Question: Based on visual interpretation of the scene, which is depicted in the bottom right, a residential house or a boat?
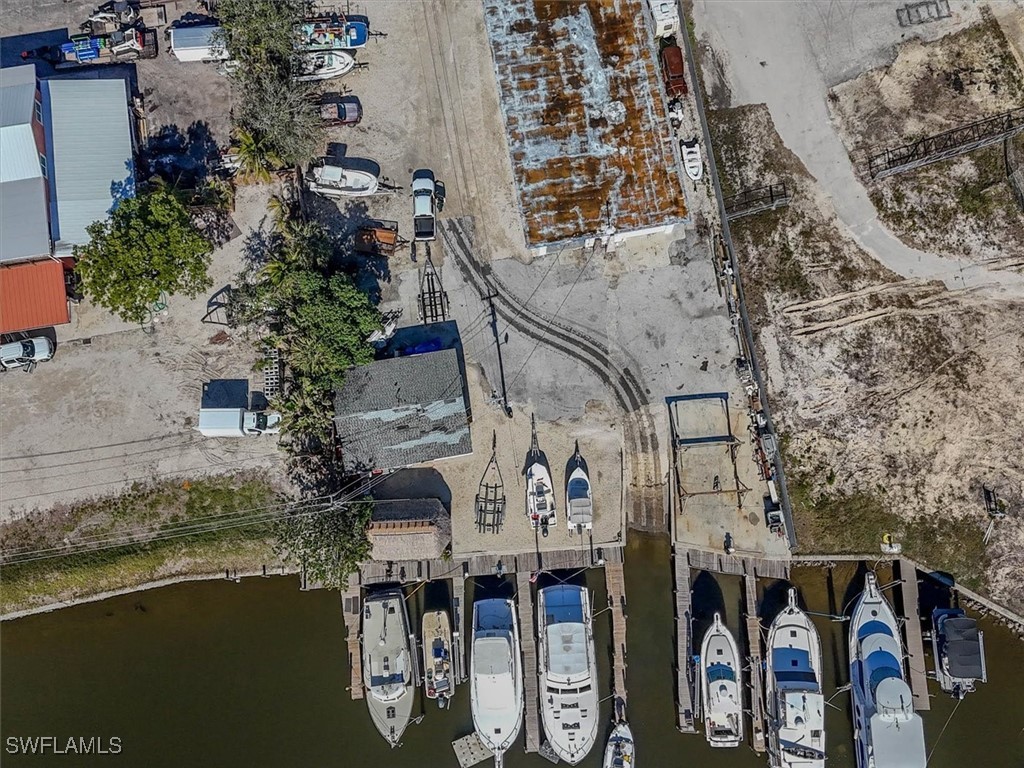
boat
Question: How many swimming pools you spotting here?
0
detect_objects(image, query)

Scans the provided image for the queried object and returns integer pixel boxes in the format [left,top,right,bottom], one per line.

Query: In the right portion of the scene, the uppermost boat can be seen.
[678,137,701,195]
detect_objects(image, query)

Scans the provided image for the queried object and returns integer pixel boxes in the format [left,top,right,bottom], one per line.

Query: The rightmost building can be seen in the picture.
[487,0,690,263]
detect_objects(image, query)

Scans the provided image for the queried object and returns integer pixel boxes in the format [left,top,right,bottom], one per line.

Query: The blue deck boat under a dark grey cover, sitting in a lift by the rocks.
[928,608,981,765]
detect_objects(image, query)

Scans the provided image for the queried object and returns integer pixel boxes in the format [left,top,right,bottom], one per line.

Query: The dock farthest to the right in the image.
[894,558,935,710]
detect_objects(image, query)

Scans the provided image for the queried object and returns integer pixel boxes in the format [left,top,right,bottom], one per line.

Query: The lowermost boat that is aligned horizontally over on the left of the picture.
[305,166,379,200]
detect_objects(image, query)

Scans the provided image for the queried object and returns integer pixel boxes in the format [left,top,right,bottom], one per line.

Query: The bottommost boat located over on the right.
[603,718,637,768]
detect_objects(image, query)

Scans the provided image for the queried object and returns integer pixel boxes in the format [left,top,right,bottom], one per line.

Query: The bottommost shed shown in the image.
[362,498,453,562]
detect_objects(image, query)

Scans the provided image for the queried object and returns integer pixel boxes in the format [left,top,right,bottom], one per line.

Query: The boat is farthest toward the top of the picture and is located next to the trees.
[293,12,369,55]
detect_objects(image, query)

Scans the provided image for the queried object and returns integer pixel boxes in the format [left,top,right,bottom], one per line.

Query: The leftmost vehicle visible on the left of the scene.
[0,337,61,375]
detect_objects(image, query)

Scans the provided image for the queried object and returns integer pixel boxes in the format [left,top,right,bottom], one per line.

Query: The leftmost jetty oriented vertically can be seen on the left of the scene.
[341,582,364,699]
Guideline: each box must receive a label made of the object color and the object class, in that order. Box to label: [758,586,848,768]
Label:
white boat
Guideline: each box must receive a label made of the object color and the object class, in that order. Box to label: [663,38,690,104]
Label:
red vehicle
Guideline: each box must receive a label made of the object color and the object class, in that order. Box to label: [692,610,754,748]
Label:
white boat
